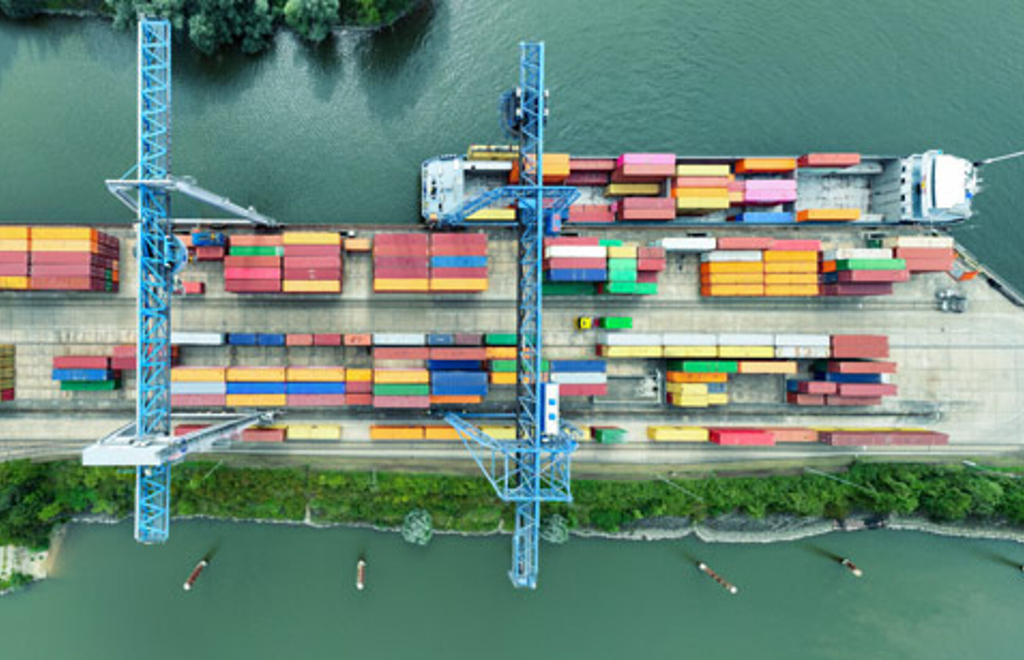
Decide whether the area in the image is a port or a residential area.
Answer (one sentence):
This image shows a port.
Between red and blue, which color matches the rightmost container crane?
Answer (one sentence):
The color of the rightmost container crane is blue.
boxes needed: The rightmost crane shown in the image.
[422,41,585,589]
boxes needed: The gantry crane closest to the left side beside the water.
[83,11,287,547]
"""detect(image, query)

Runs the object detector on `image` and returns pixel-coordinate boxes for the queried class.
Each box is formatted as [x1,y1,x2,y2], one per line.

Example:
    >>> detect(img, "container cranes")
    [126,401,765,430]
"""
[422,41,585,589]
[83,11,287,547]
